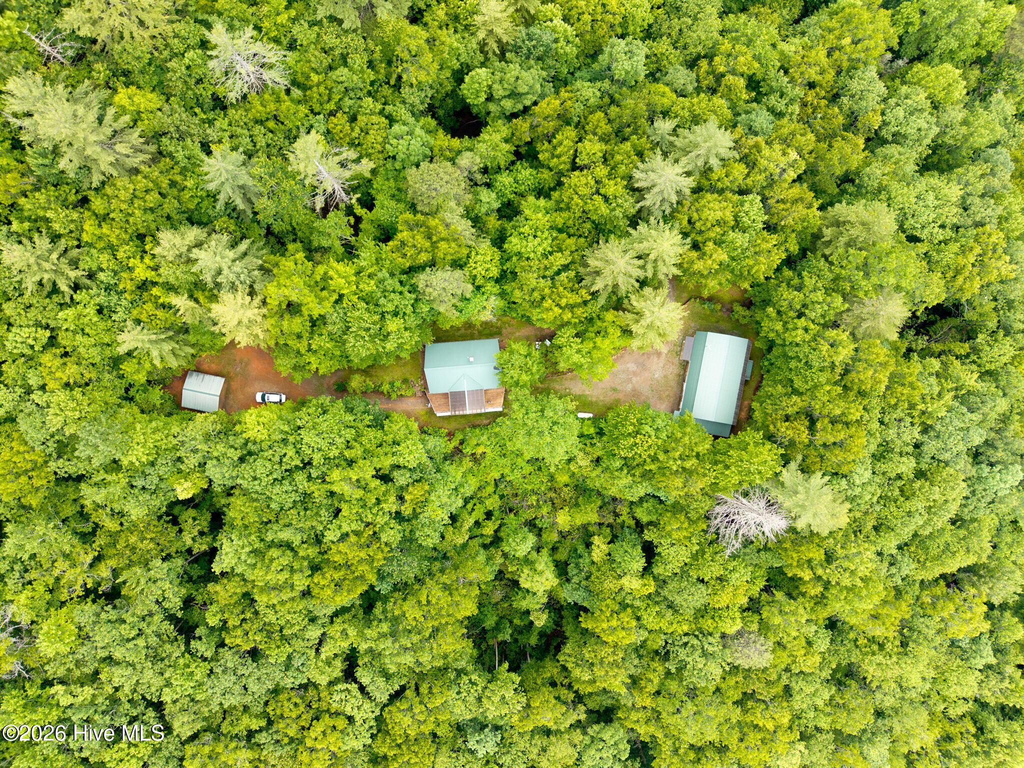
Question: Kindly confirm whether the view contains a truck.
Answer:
No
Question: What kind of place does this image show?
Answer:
forest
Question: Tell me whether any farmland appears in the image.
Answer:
No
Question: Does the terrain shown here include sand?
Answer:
No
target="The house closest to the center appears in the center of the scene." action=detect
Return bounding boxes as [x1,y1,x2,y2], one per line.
[423,338,505,416]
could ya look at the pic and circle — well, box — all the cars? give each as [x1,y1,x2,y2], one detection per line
[256,391,286,404]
